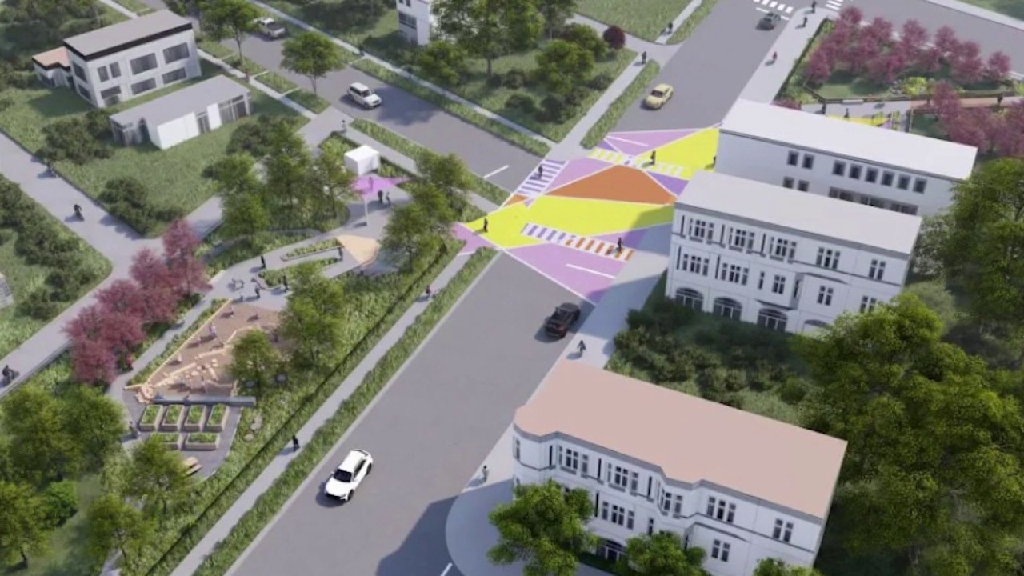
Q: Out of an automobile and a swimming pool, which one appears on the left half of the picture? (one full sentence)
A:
Visible on the left half of the picture is an automobile.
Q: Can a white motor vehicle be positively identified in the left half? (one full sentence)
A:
Yes, a white motor vehicle shows up in the left half.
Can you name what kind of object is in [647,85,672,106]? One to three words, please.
car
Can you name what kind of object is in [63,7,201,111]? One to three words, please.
house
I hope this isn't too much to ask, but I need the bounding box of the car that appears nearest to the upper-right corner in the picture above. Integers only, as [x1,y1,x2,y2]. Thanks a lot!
[760,11,780,27]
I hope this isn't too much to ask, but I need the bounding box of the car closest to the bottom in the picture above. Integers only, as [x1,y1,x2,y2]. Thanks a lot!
[323,446,375,500]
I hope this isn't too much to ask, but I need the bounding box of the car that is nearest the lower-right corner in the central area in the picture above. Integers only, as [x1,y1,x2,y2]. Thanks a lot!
[543,299,581,336]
